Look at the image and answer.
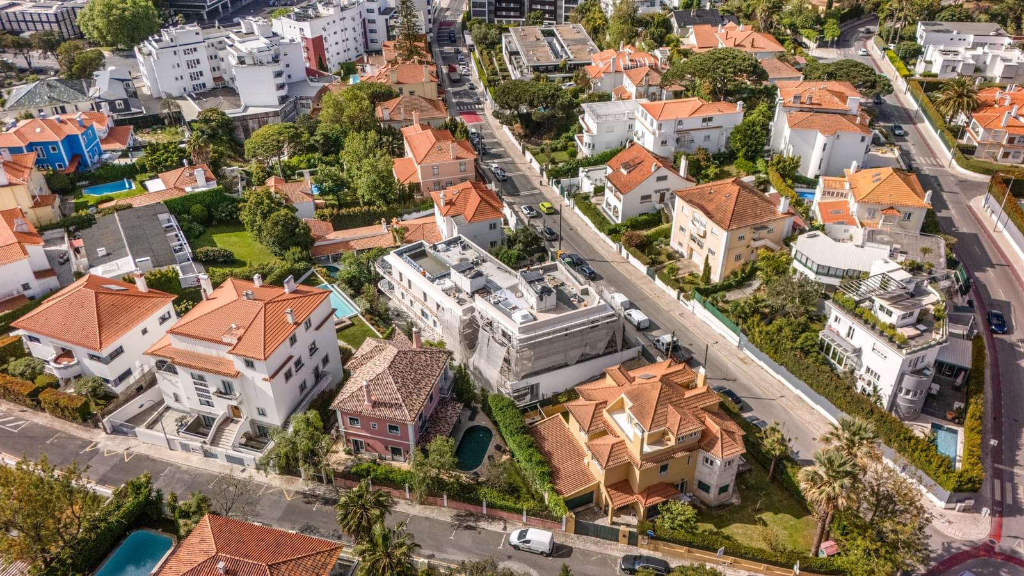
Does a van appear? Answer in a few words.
Yes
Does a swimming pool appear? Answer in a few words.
Yes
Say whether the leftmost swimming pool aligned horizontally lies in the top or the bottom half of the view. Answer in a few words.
top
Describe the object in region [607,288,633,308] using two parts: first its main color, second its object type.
white vehicle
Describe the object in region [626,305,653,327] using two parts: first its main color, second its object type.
white vehicle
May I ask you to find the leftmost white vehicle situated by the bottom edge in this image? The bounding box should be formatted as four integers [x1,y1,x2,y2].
[509,523,556,552]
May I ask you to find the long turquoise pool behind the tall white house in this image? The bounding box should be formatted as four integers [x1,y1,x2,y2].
[313,281,364,322]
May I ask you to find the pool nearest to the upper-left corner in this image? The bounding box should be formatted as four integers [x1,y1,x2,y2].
[81,177,137,197]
